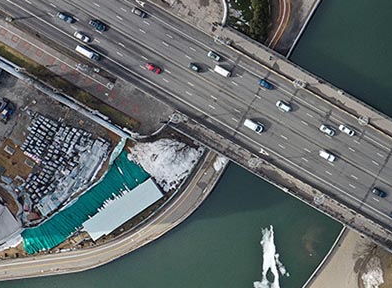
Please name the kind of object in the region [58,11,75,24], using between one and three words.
vehicle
